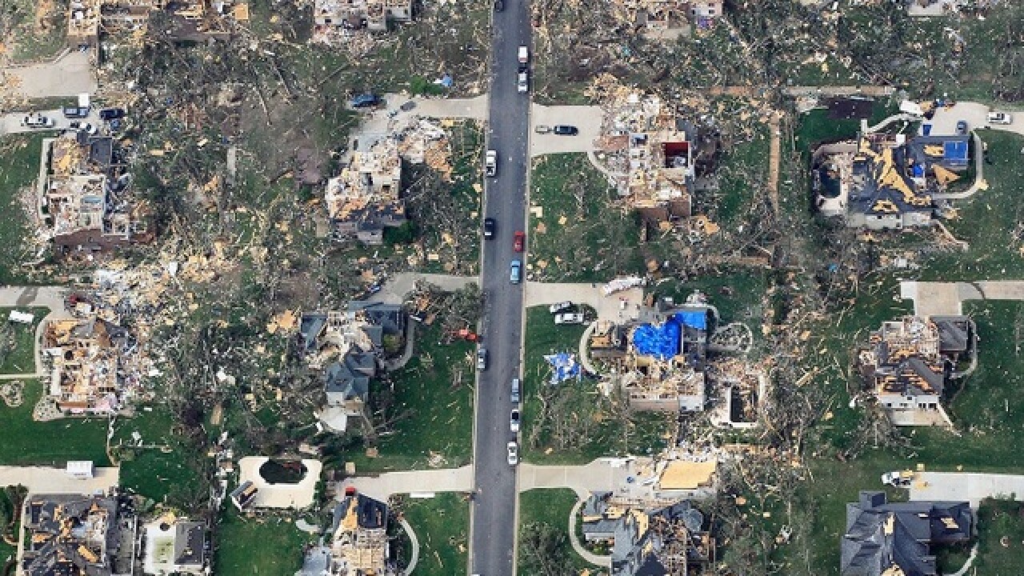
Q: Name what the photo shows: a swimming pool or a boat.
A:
swimming pool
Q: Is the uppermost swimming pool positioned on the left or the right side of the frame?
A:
right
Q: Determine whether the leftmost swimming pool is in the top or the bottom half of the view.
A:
bottom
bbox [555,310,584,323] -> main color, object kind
white vehicle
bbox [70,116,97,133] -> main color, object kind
white car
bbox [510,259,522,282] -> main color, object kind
blue vehicle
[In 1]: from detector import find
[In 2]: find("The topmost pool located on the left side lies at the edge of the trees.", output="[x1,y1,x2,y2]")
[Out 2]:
[258,459,308,485]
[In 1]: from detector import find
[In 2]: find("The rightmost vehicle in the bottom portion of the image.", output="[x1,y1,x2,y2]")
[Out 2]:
[882,470,914,485]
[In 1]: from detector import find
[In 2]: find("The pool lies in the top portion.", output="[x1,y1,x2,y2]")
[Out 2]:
[818,160,841,198]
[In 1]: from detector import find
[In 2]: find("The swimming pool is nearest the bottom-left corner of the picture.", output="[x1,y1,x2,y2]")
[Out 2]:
[152,535,175,565]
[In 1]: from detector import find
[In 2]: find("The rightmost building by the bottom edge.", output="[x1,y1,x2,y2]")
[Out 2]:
[840,490,970,576]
